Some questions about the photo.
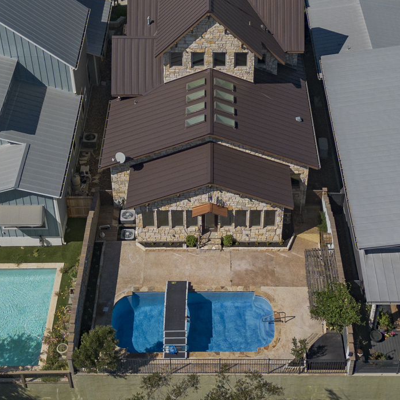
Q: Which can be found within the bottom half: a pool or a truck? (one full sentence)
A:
Visible within the bottom half is a pool.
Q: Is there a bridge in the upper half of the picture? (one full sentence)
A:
No, no bridge can be made out in the upper half of the picture.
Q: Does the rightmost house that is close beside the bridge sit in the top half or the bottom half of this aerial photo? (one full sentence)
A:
The top half of the photo is where the rightmost house that is close beside the bridge is.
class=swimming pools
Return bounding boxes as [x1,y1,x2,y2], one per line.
[0,265,61,371]
[104,284,284,361]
